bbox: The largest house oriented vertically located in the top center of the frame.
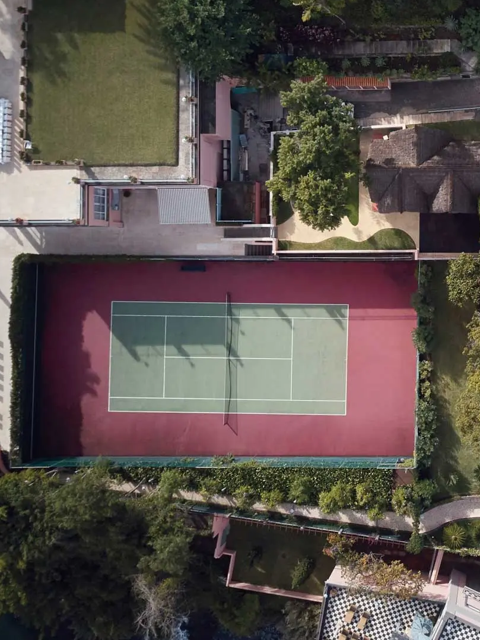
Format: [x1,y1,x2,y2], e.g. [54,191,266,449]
[200,78,245,190]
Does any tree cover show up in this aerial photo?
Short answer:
Yes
